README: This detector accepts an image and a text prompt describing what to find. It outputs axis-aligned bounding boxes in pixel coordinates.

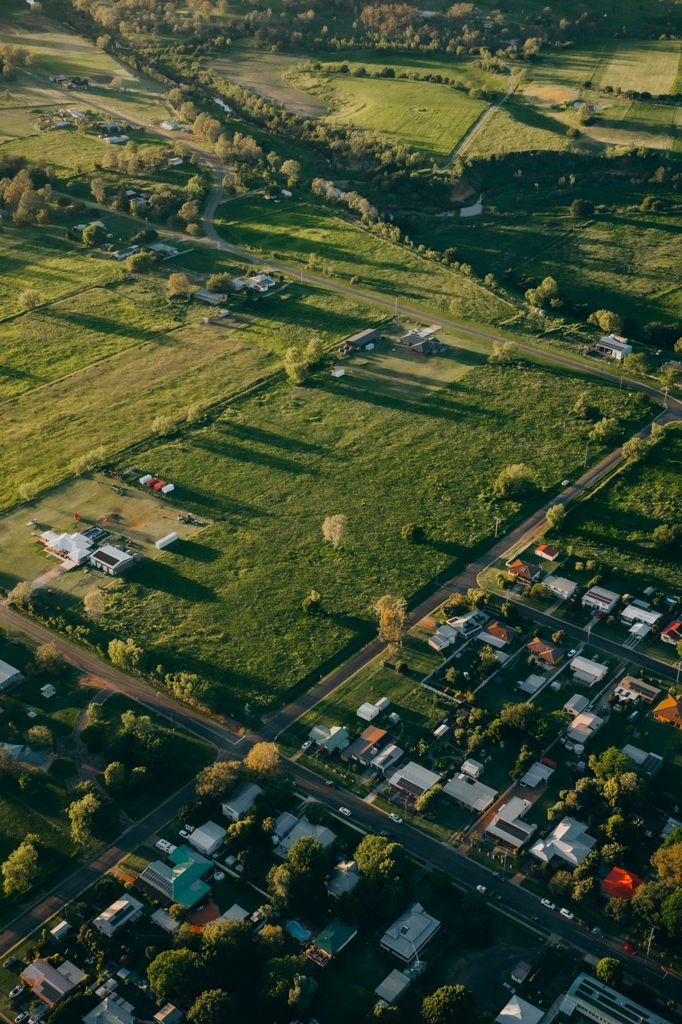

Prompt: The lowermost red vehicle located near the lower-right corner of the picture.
[622,942,640,955]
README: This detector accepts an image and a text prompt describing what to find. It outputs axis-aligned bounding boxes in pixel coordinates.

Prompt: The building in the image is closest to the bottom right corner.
[565,972,673,1024]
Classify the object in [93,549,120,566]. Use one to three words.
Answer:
solar panel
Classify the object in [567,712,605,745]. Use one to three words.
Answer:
house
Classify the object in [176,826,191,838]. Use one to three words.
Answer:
vehicle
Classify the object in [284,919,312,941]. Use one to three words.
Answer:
swimming pool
